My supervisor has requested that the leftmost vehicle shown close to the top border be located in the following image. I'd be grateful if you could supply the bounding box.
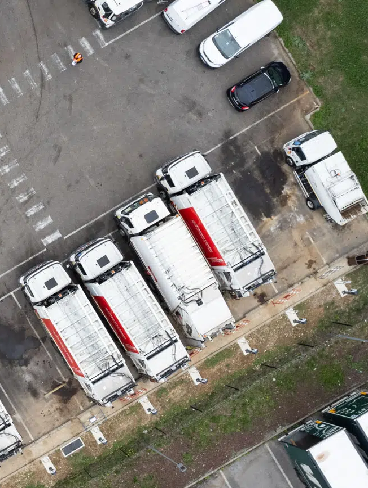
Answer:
[90,0,148,35]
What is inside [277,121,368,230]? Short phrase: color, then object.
white truck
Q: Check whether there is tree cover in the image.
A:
No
